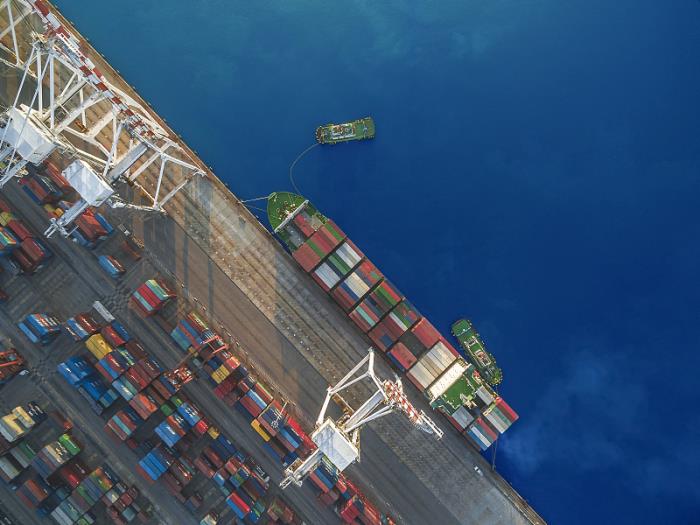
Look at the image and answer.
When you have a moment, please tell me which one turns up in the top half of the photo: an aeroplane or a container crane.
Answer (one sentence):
Looking in the top half of the photo, you will find a container crane.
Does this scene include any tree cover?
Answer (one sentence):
No, there's no tree cover in this view.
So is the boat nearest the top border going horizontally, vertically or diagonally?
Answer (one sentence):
The boat nearest the top border runs horizontally in the image.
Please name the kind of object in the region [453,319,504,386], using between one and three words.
boat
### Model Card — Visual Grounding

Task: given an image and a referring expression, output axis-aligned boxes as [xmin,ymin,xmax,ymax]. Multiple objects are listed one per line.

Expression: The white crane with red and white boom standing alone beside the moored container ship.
[277,344,440,494]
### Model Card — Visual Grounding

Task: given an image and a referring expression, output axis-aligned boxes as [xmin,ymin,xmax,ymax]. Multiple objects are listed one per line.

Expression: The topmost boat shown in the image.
[318,118,376,141]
